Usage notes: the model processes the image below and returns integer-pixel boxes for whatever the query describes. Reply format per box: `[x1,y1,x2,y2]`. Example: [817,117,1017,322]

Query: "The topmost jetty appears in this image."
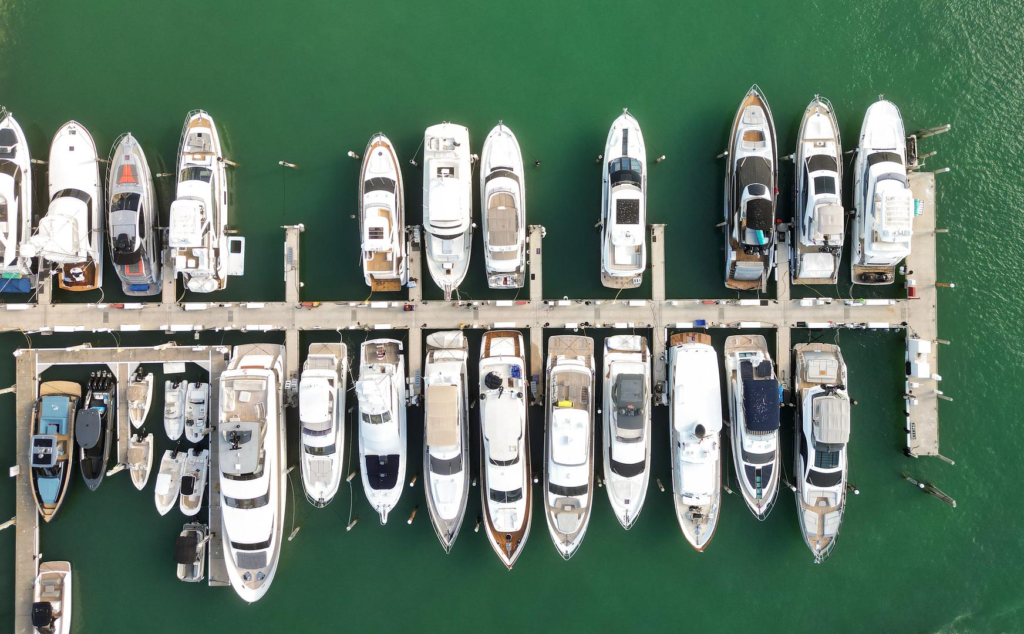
[0,171,939,457]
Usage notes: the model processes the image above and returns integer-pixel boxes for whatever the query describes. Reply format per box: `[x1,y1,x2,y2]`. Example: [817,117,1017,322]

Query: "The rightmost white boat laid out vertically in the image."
[842,93,913,305]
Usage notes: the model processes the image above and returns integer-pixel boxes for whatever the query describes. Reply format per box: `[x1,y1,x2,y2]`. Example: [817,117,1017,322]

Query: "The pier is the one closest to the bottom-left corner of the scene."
[14,340,233,634]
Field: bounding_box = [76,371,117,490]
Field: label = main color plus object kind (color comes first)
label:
gray boat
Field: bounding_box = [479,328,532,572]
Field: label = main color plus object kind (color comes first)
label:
white boat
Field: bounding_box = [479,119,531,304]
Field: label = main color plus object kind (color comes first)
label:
white boat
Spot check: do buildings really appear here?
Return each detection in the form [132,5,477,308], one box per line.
[903,340,930,378]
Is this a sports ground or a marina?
marina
